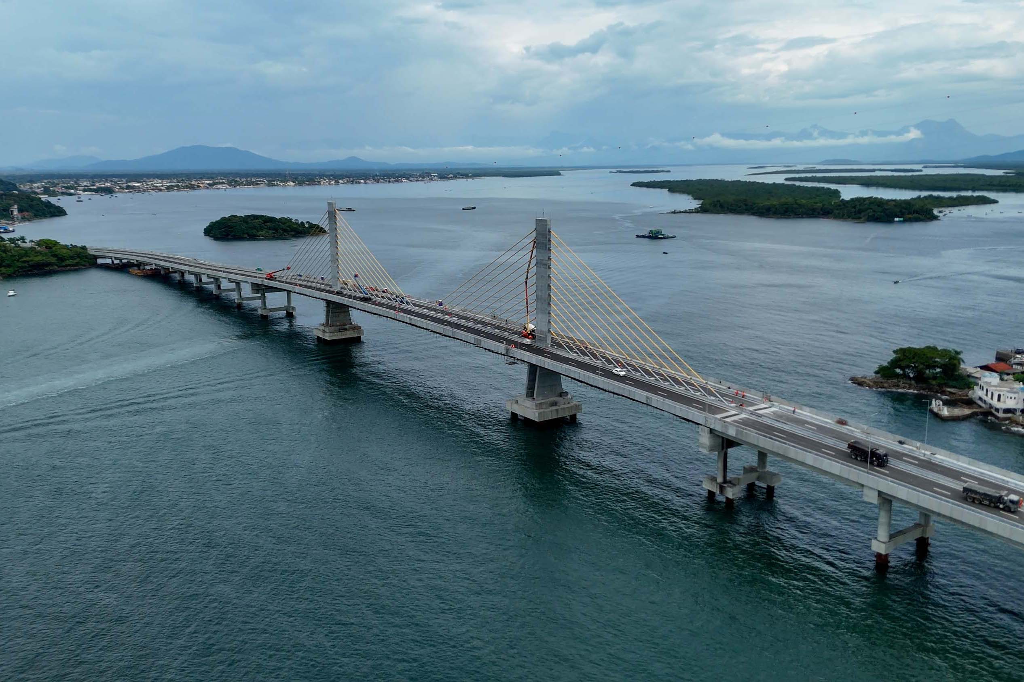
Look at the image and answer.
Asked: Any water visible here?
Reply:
Yes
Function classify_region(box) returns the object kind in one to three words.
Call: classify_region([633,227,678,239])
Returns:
ship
